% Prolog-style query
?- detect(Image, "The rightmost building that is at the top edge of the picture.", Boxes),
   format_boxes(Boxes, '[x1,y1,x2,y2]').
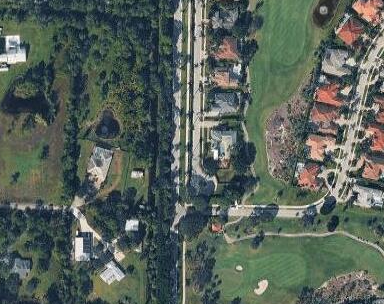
[352,0,381,25]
